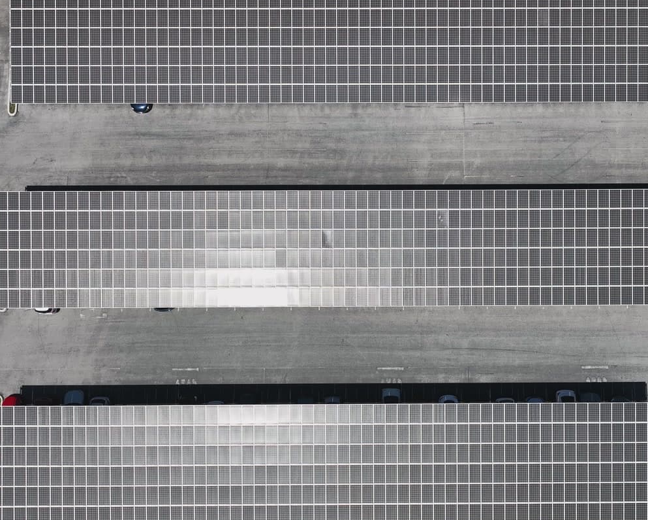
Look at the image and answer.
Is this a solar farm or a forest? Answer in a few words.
solar farm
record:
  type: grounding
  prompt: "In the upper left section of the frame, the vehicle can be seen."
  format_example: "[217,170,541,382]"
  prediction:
[131,102,153,114]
